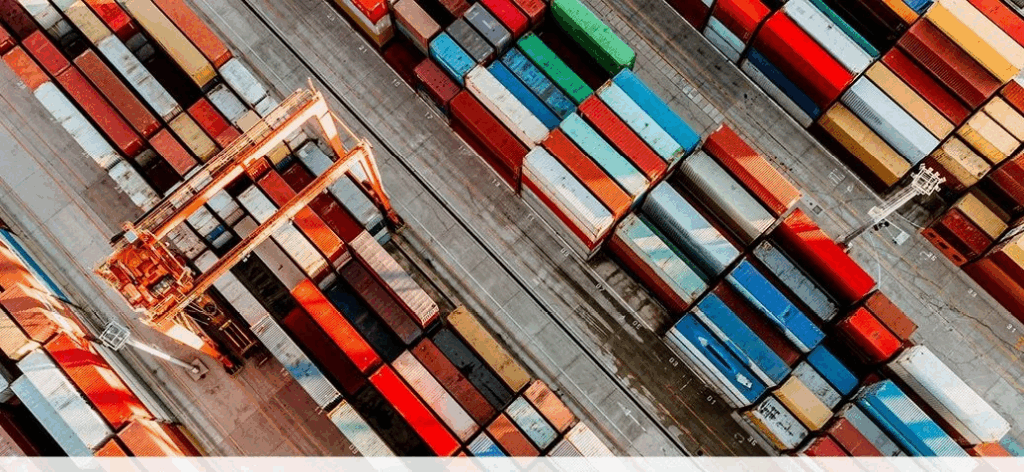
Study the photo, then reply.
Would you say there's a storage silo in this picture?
No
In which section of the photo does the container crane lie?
left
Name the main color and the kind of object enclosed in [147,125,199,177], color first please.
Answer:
red shipping container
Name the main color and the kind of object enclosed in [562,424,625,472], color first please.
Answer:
white shipping container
